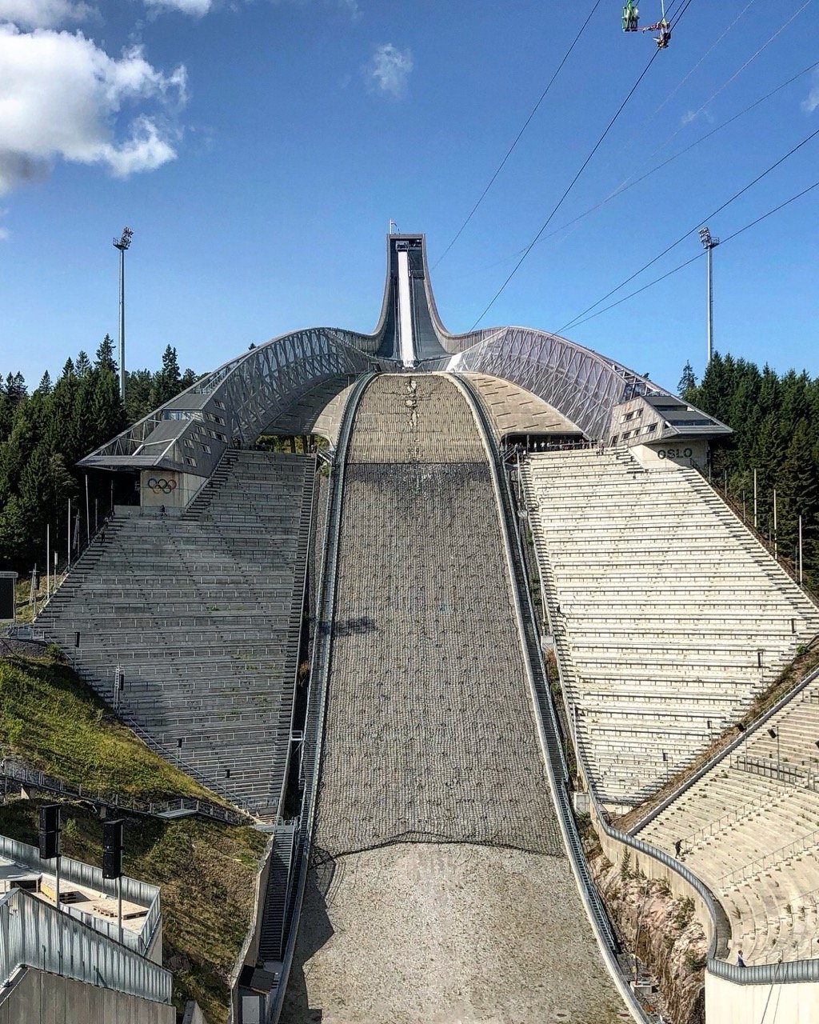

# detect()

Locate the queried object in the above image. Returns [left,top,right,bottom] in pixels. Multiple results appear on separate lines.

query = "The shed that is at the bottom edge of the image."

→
[238,968,271,1024]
